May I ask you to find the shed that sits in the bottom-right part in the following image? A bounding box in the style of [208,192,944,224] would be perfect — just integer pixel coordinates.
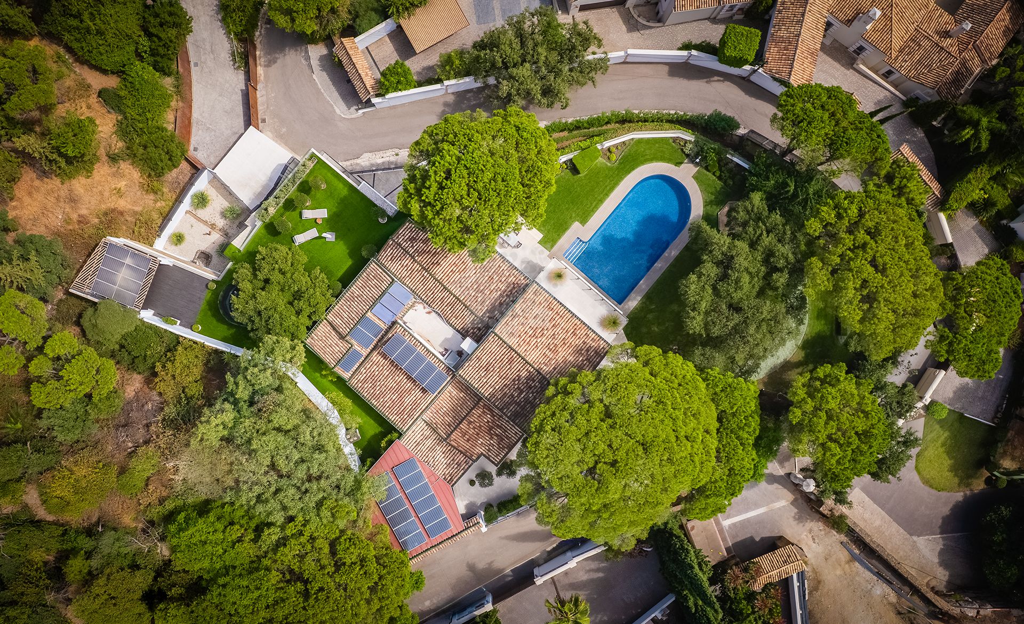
[743,541,807,592]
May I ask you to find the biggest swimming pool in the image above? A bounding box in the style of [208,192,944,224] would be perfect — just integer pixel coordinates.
[563,173,692,305]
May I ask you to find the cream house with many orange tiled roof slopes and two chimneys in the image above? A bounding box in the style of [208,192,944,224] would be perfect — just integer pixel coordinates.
[824,0,1024,104]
